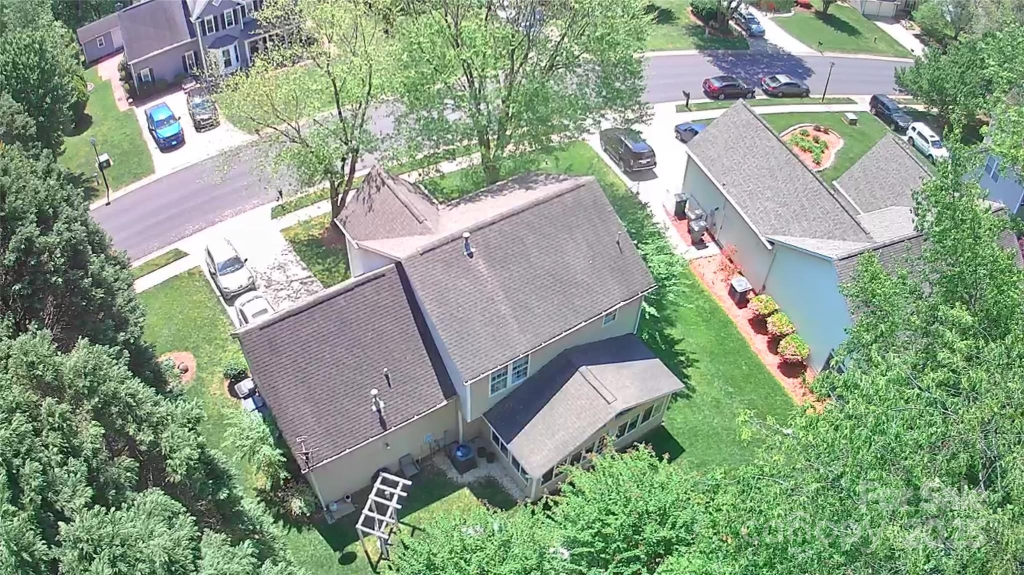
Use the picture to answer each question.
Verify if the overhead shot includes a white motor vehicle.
Yes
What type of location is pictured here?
residential area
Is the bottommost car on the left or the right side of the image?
left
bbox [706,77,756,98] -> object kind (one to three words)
car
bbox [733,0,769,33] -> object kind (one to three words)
car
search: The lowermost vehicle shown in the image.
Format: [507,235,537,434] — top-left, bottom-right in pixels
[237,291,273,324]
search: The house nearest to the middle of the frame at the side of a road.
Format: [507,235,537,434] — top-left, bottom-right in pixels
[228,167,683,513]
